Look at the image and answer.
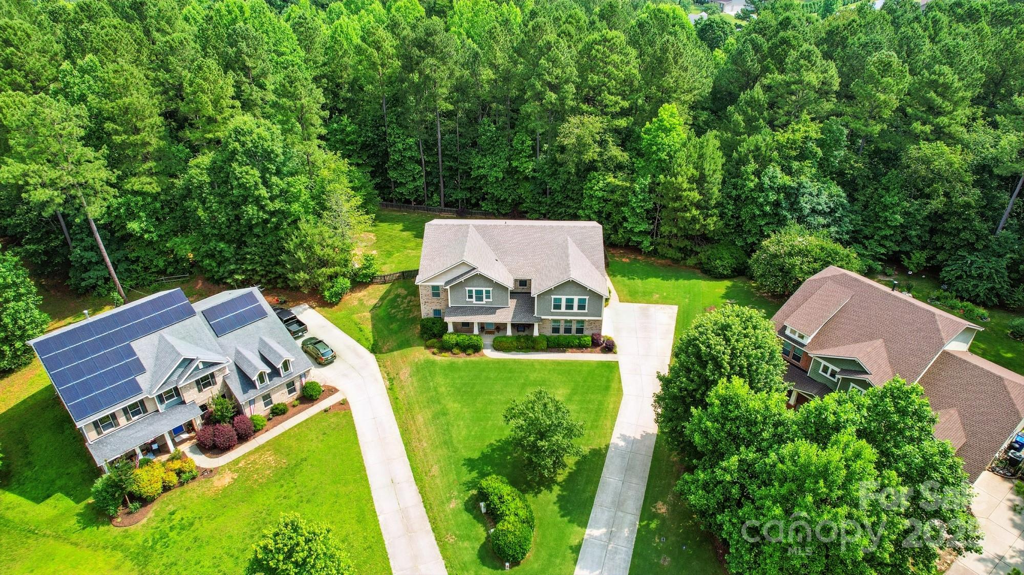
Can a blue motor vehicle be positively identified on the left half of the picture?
No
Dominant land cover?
trees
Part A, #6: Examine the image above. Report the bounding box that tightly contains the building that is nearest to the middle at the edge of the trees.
[415,219,609,340]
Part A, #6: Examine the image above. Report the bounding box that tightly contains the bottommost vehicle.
[298,335,335,365]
